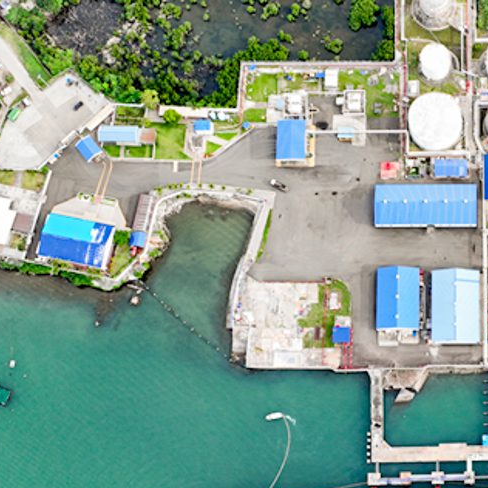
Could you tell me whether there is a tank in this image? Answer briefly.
Yes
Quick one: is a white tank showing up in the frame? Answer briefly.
Yes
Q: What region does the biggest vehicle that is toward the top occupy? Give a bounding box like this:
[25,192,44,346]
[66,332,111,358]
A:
[268,177,287,191]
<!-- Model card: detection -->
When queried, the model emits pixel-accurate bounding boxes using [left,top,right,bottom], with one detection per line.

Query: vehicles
[73,101,84,111]
[268,177,287,191]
